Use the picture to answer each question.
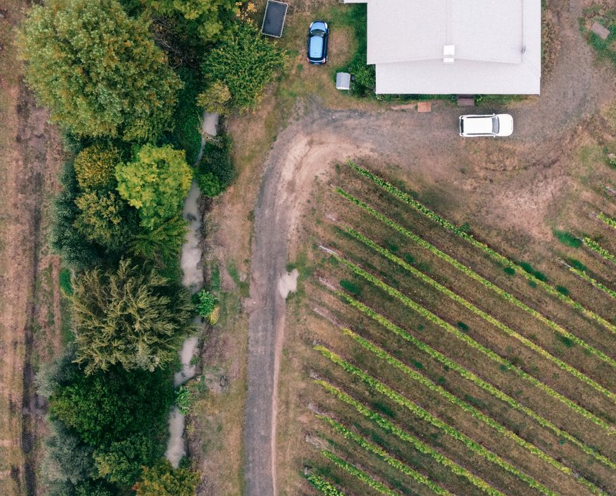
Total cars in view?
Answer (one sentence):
The picture shows 2 cars.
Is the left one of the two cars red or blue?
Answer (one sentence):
In this view, the left one of the two cars is blue.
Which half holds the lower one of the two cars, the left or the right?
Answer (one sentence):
It is on the right.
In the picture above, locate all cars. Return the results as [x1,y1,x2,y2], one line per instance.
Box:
[460,113,512,138]
[306,23,330,67]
